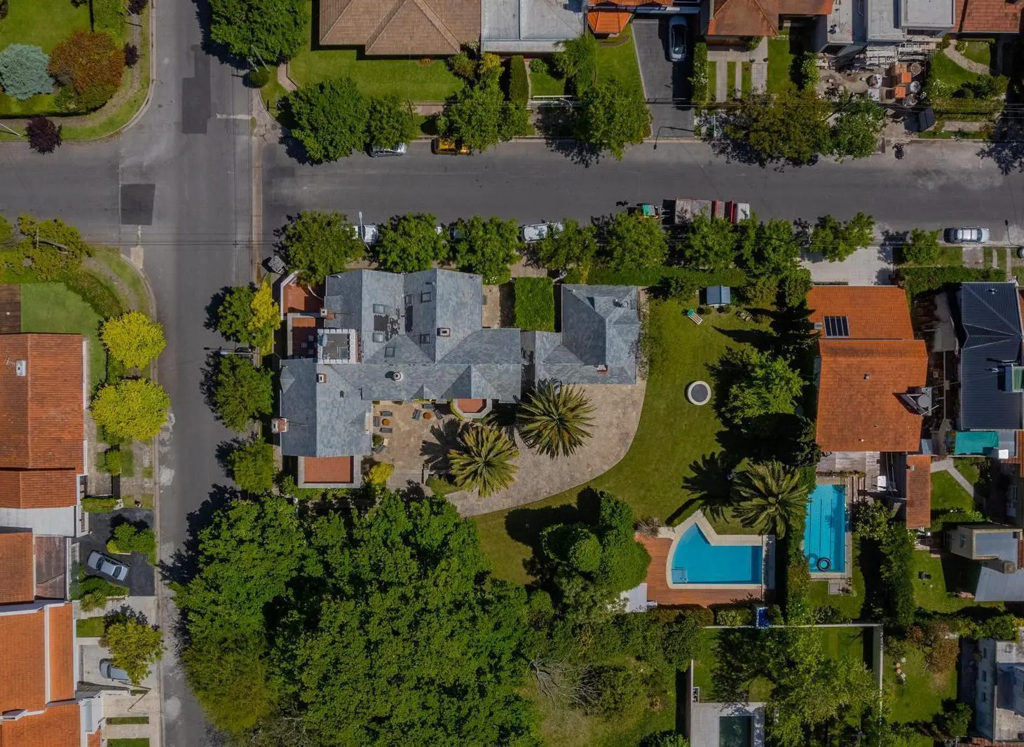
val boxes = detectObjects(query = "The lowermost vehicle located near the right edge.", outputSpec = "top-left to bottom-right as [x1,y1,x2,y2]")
[943,226,988,246]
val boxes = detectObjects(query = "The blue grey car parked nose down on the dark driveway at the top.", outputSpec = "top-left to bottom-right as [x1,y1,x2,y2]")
[668,16,688,62]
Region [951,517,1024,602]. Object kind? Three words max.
house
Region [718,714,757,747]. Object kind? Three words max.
swimming pool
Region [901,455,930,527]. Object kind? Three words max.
shed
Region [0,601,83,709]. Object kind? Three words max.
house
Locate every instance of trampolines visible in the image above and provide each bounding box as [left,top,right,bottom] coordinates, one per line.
[687,381,711,405]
